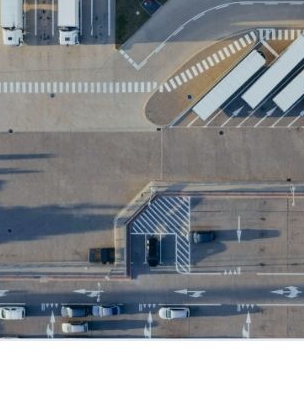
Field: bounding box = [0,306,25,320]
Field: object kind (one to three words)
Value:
car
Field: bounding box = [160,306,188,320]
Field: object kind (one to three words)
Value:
car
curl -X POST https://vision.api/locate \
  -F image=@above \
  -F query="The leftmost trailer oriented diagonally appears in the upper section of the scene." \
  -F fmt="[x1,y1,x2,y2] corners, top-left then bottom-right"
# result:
[192,51,266,121]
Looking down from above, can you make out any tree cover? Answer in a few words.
No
